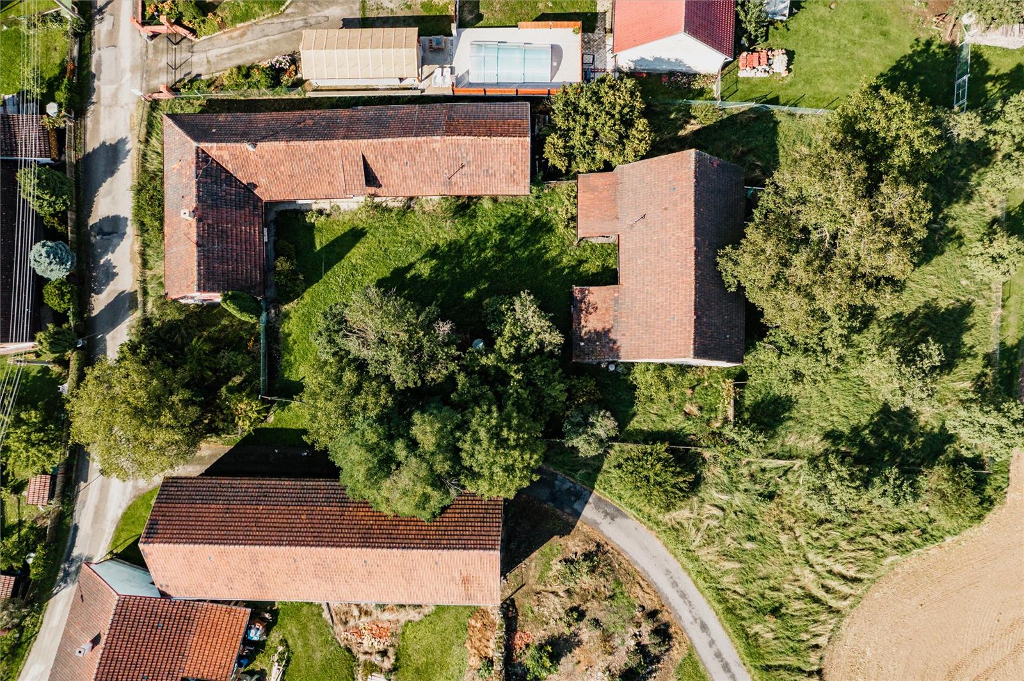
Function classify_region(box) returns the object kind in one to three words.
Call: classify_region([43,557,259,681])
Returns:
house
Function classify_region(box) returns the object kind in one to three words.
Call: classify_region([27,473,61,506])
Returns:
shed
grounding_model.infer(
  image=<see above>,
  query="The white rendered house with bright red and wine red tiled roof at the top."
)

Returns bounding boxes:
[611,0,735,75]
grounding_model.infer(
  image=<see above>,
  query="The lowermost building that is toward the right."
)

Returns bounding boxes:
[571,149,745,368]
